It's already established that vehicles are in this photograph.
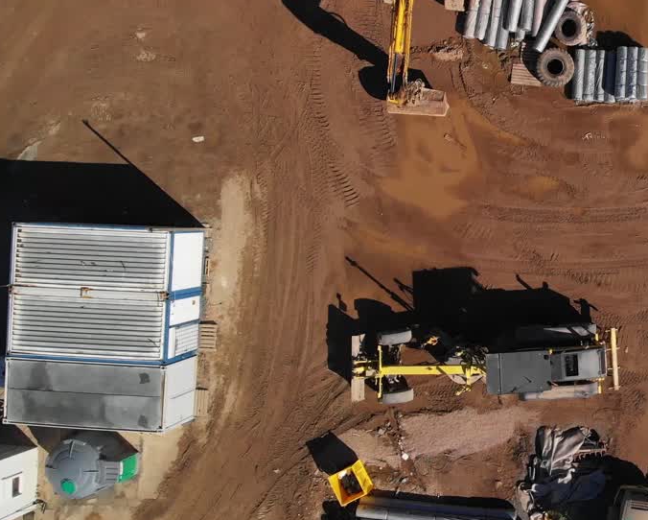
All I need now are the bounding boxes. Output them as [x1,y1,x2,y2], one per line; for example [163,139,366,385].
[350,325,620,406]
[610,480,648,520]
[381,0,468,114]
